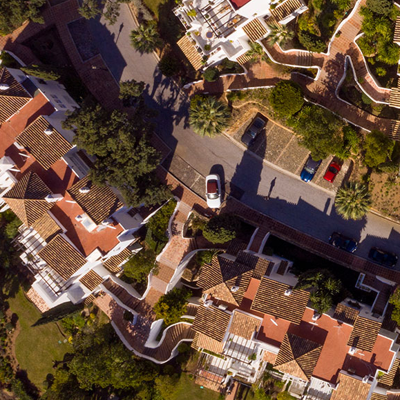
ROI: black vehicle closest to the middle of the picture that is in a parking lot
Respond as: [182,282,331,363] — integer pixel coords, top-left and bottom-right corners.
[240,113,268,147]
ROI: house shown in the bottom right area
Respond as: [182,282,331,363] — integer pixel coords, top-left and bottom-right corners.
[190,239,400,400]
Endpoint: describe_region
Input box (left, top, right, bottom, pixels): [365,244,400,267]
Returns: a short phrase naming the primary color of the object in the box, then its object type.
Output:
black car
